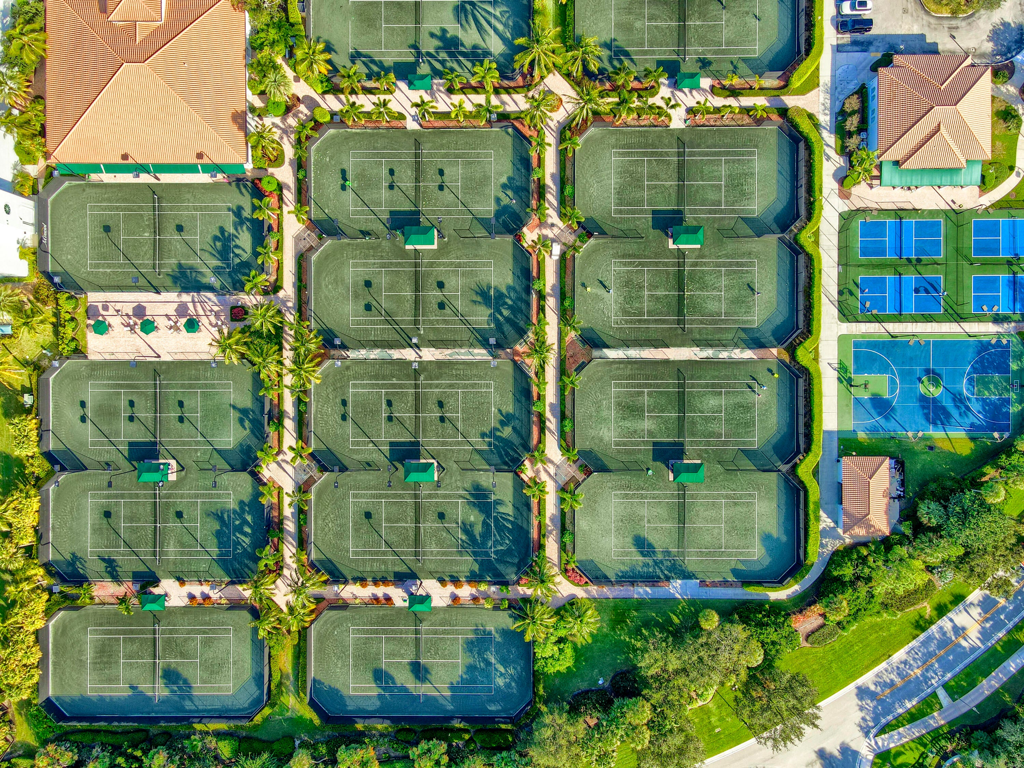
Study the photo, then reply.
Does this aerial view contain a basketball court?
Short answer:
Yes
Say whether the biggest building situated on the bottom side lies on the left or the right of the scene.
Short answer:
right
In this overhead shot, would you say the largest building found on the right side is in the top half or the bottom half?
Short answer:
top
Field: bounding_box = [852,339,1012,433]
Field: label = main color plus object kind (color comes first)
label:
blue basketball court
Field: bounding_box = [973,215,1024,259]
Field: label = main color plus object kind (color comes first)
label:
blue sports court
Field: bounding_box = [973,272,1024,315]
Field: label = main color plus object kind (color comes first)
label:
blue sports court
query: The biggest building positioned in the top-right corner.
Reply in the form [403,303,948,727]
[868,54,992,191]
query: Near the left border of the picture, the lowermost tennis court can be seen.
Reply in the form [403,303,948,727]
[50,606,264,716]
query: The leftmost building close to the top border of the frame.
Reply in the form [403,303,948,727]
[45,0,251,178]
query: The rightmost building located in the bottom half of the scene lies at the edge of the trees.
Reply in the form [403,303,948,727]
[838,456,890,536]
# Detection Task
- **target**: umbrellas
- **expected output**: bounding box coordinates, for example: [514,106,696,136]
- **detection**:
[93,319,109,335]
[184,319,200,333]
[141,319,156,335]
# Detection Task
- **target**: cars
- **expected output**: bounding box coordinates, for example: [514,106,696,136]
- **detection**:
[838,19,873,36]
[840,0,871,15]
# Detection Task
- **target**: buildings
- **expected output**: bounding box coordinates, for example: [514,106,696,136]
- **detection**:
[838,456,890,536]
[45,0,251,178]
[0,187,37,292]
[868,54,992,191]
